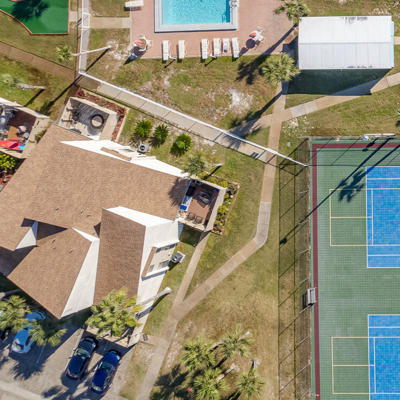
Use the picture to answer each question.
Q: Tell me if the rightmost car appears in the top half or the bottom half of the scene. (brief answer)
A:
bottom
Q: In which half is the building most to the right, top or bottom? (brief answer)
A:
top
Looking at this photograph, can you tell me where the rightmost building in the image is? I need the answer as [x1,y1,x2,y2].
[298,16,394,70]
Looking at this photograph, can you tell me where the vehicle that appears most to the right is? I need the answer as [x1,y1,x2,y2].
[91,351,123,395]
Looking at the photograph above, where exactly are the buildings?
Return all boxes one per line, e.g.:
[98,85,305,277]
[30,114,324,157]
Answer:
[0,123,200,319]
[298,16,394,70]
